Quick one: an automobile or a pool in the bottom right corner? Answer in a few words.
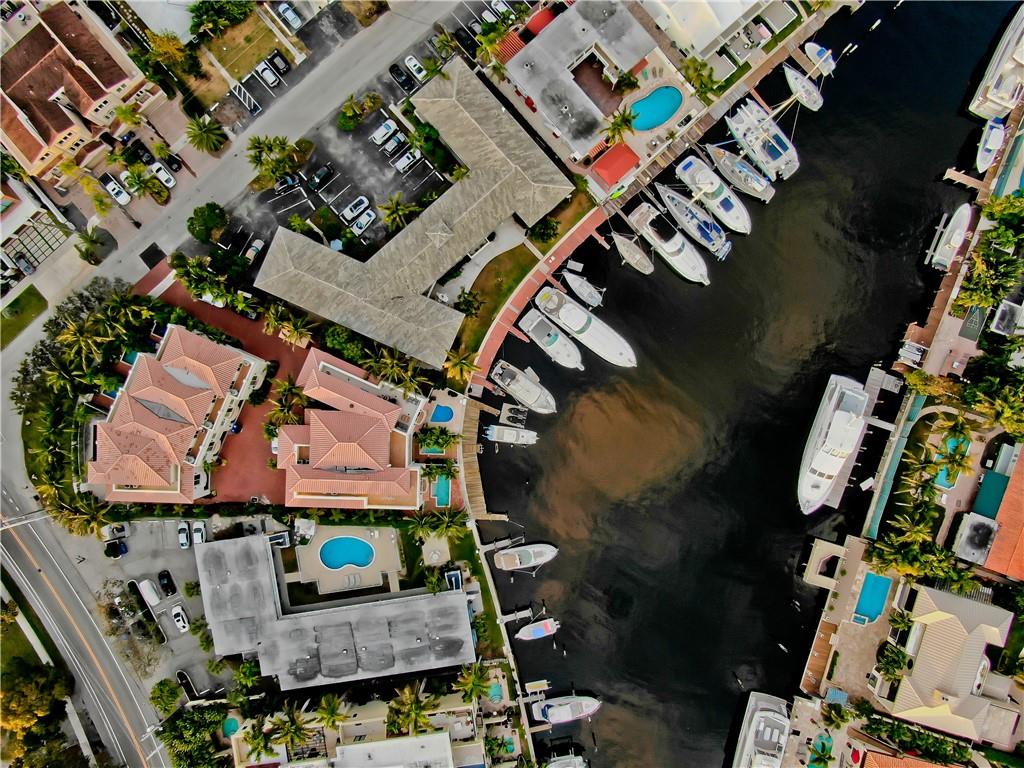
pool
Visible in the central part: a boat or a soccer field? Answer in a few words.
boat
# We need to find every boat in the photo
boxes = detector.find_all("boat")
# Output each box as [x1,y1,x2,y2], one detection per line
[803,43,833,81]
[541,748,592,768]
[728,691,789,768]
[514,614,559,638]
[668,151,750,232]
[780,49,838,112]
[929,205,975,271]
[557,269,601,306]
[798,369,873,515]
[532,690,602,725]
[508,408,526,416]
[624,196,710,286]
[604,222,648,272]
[486,538,559,574]
[648,180,734,256]
[725,102,796,182]
[485,426,536,444]
[512,306,585,371]
[974,115,1010,171]
[506,416,525,424]
[711,250,730,269]
[698,125,774,206]
[960,0,1024,125]
[487,349,556,412]
[529,276,637,366]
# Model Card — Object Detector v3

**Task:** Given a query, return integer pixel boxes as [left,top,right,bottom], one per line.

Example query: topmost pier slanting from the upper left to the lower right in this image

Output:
[791,48,820,81]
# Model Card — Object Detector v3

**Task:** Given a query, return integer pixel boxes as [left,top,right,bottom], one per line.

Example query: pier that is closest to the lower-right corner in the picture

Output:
[802,539,844,589]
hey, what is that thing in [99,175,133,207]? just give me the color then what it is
white truck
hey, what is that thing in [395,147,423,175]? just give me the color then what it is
white car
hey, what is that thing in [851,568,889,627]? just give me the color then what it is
blue swimming pool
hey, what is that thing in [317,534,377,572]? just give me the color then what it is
blue swimming pool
